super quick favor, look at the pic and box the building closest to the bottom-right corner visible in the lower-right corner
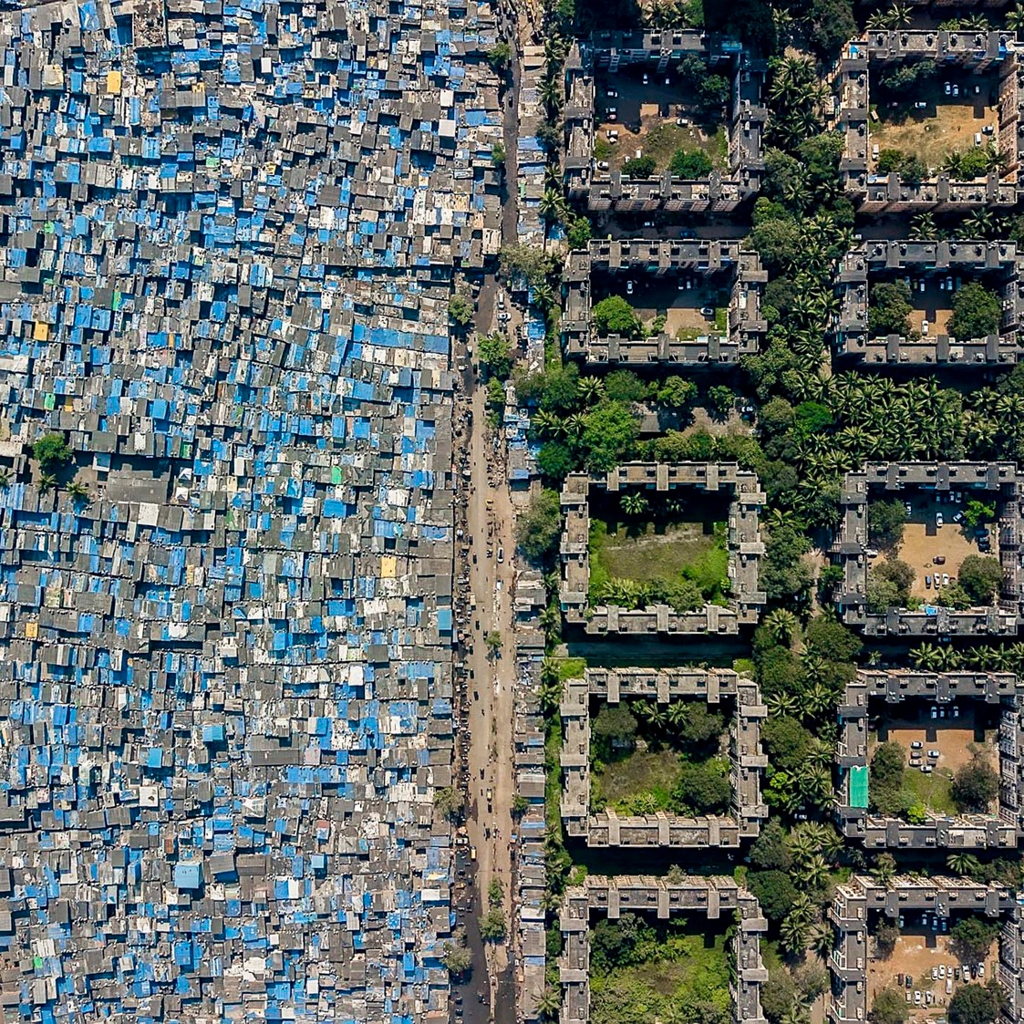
[827,875,1024,1024]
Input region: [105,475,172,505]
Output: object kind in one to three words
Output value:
shed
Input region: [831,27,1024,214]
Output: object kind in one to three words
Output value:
building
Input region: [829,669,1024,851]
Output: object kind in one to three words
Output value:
building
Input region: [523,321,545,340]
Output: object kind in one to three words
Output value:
shed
